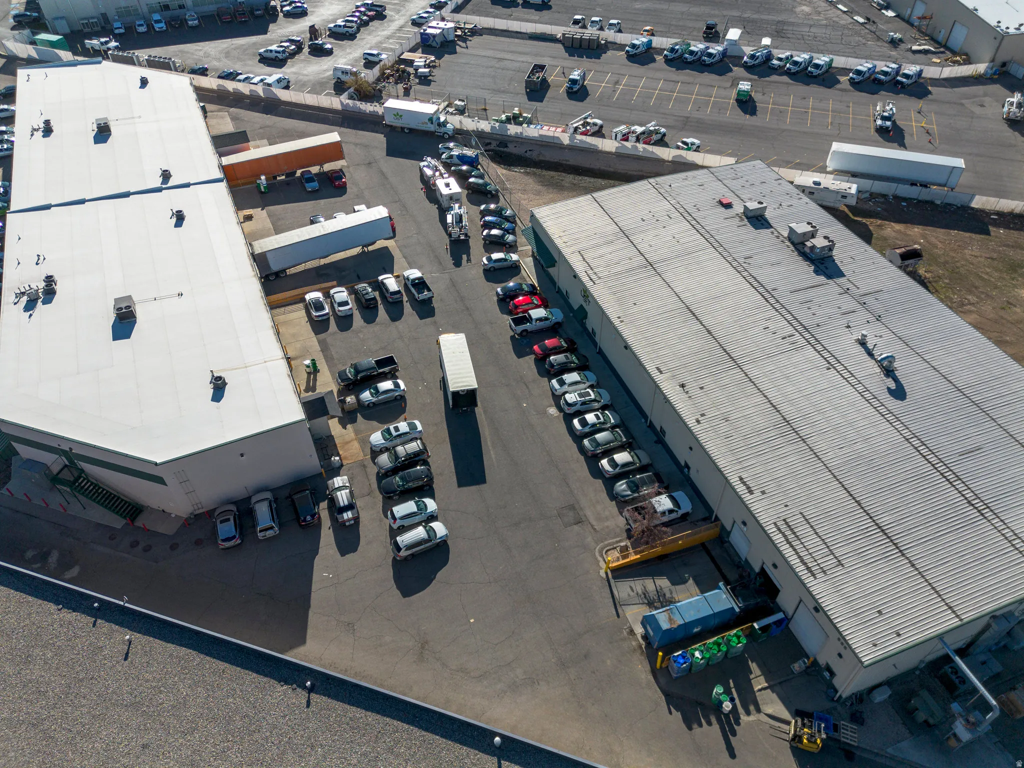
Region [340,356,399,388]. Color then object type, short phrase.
black truck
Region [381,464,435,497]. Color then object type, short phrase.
black car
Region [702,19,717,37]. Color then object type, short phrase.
black vehicle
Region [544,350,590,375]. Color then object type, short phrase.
black car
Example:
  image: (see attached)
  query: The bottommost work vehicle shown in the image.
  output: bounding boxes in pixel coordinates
[768,721,835,755]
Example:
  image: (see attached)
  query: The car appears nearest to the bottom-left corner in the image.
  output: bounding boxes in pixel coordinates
[211,503,243,553]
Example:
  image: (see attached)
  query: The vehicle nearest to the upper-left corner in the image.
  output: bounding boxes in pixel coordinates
[9,10,42,24]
